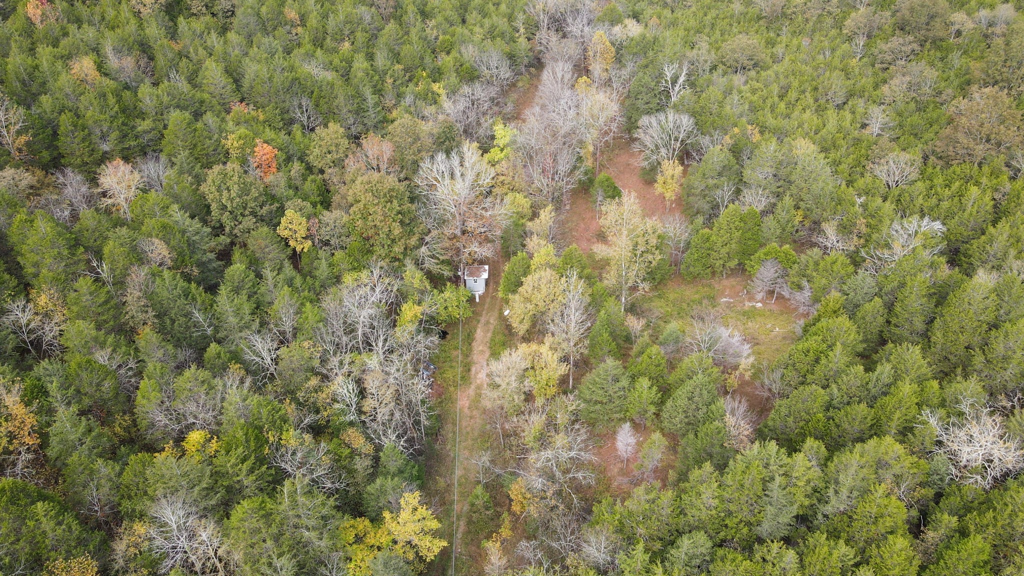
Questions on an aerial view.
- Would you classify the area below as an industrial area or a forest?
forest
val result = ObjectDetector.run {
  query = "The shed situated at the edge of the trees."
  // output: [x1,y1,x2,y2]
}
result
[463,260,489,291]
